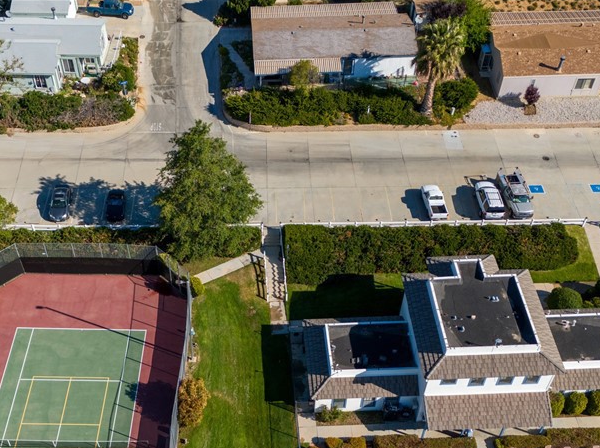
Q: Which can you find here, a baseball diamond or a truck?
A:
truck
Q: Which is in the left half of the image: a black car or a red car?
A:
black car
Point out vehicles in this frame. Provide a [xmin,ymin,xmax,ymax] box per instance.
[101,185,125,222]
[424,185,452,222]
[87,0,130,19]
[478,184,509,219]
[45,182,71,220]
[503,162,537,215]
